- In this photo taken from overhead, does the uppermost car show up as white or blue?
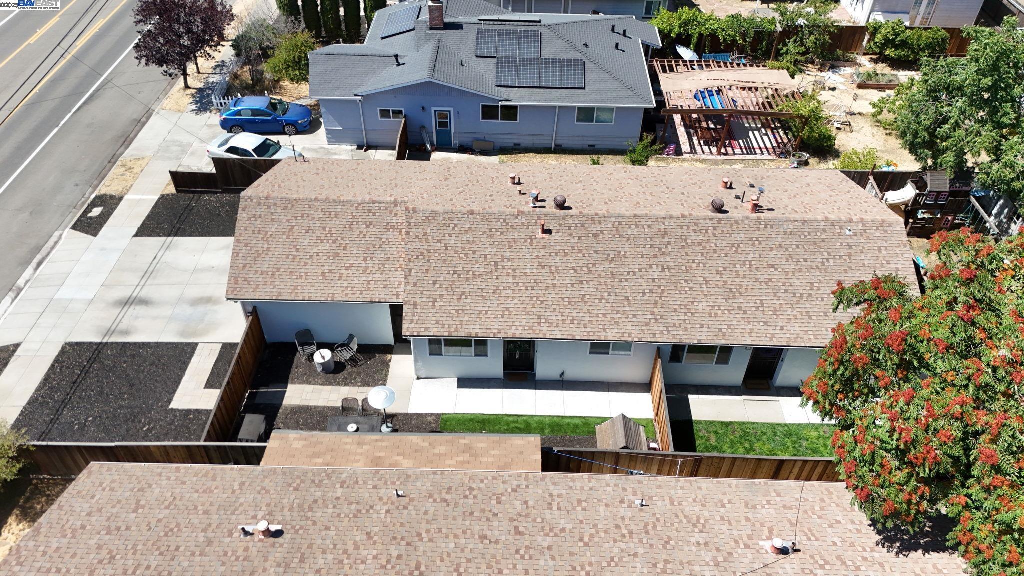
blue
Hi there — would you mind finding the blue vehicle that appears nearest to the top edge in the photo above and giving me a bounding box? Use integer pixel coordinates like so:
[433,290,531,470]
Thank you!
[217,91,313,132]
